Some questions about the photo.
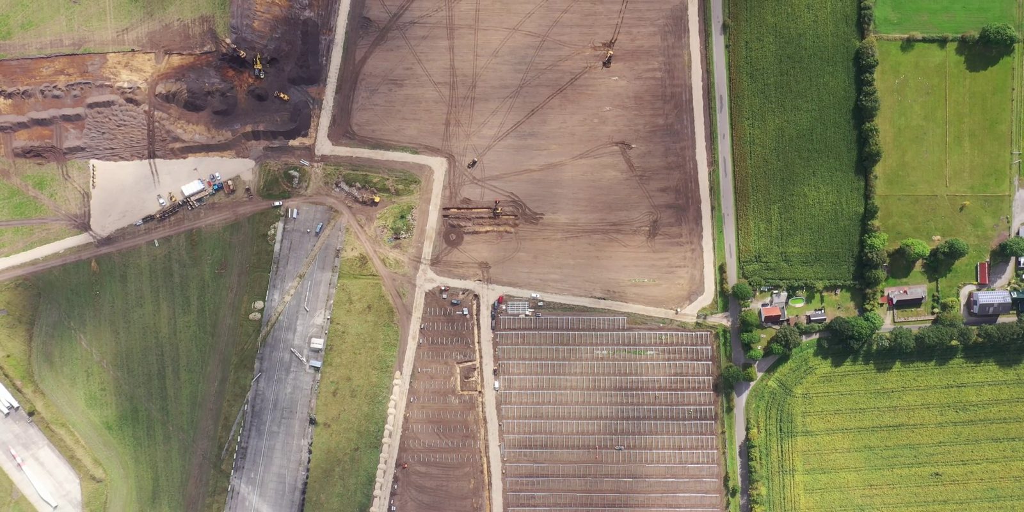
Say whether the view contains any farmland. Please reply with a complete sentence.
Yes, some farmland is visible.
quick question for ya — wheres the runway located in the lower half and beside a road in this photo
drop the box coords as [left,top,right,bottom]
[223,204,349,512]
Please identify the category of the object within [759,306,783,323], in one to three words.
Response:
house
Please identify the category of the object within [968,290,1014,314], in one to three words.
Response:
house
